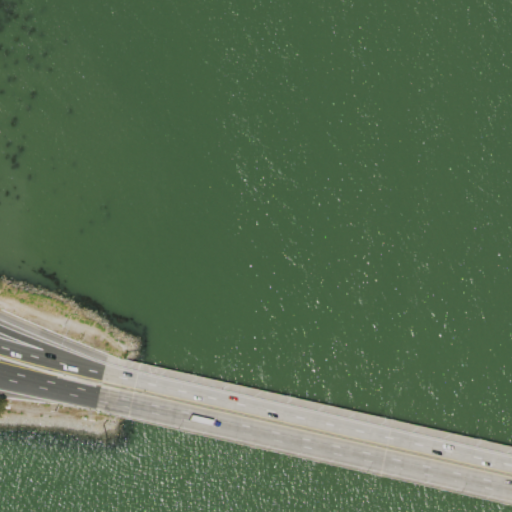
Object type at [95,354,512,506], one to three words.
bridge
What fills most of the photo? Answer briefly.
water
